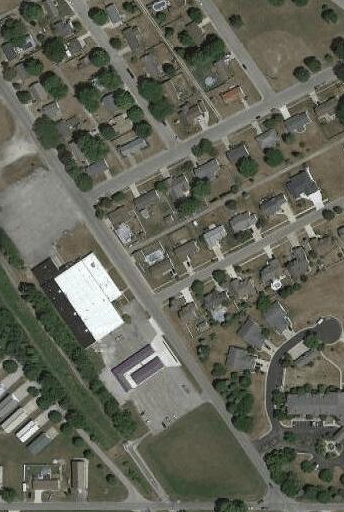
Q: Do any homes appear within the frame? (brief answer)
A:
Yes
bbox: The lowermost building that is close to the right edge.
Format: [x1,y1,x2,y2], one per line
[285,393,344,445]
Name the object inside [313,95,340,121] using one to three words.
house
